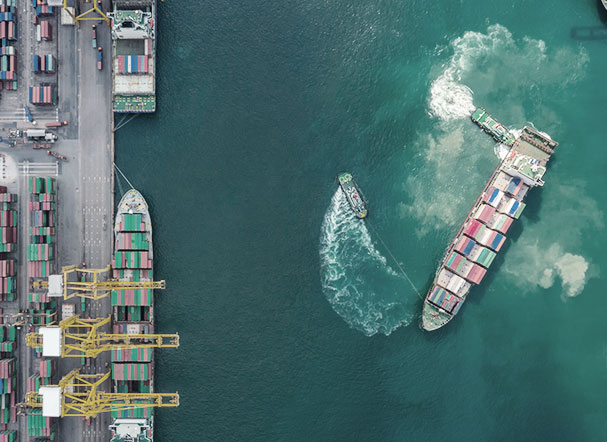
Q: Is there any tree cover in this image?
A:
No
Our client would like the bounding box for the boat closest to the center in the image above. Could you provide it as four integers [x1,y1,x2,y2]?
[338,171,367,217]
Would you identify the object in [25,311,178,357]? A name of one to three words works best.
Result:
container crane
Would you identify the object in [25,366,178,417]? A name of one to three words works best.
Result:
container crane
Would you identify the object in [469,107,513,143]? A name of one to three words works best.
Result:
boat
